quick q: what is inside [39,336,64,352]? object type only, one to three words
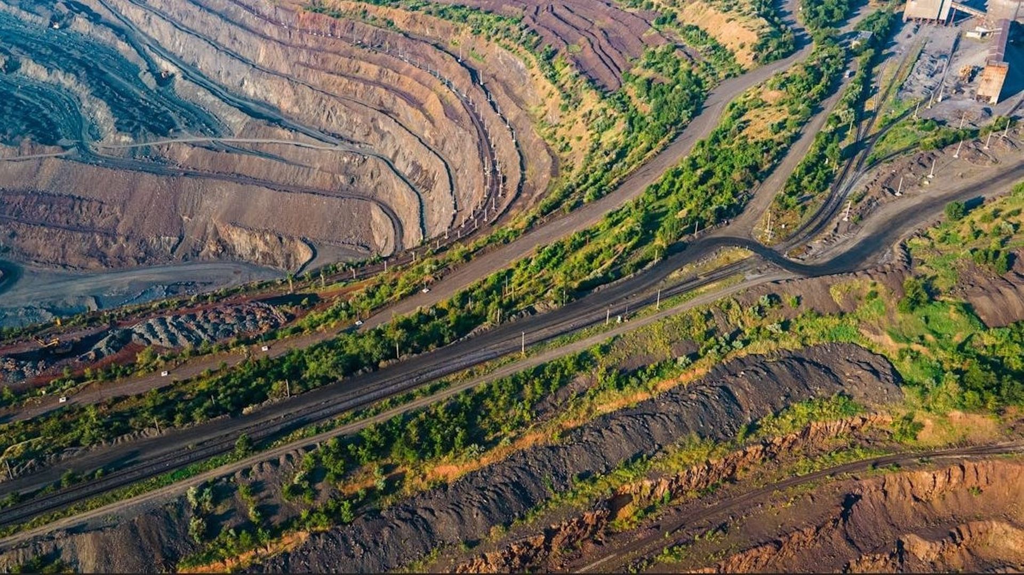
work vehicle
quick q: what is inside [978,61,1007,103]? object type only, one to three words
building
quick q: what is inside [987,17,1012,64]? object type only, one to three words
building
